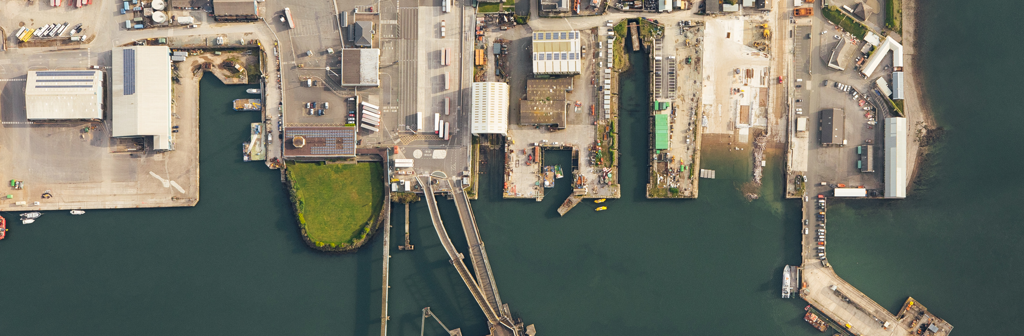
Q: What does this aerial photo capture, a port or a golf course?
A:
port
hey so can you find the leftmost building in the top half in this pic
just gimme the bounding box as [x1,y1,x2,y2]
[26,70,104,120]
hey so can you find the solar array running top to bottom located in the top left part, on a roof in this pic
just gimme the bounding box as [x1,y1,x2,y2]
[123,48,135,95]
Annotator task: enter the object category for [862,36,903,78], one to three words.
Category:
shed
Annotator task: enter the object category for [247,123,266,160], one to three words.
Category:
ship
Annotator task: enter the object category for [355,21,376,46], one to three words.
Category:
building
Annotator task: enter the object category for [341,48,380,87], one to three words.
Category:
shed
